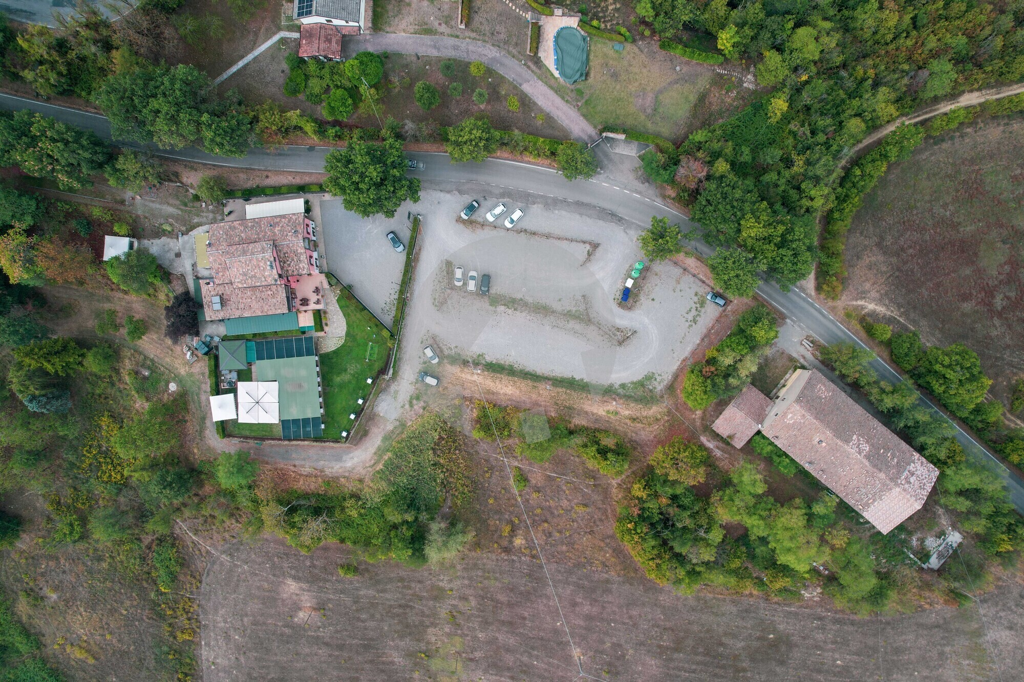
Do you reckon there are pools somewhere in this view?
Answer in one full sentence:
Yes, you can see a pool in this photo.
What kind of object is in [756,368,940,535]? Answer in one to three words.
barn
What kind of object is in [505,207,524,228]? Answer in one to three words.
car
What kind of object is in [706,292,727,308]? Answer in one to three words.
car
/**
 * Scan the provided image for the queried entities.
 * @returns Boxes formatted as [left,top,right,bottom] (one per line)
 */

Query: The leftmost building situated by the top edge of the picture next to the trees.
[292,0,364,60]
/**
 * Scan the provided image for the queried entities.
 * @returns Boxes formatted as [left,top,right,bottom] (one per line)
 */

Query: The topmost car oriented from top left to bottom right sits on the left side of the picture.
[386,230,405,253]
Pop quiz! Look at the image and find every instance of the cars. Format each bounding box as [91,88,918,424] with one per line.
[706,292,727,308]
[487,202,507,222]
[505,207,524,228]
[461,199,480,220]
[386,230,405,253]
[480,273,491,295]
[418,373,441,387]
[467,270,478,292]
[453,266,464,286]
[423,344,440,364]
